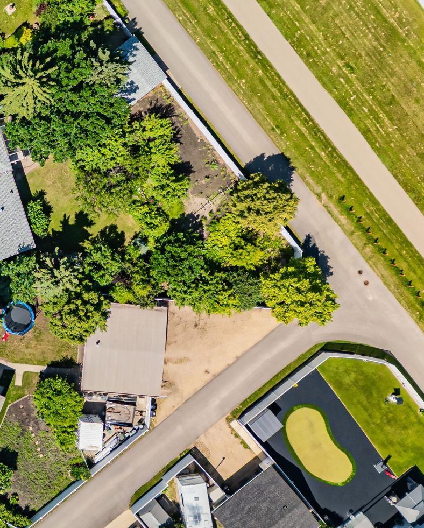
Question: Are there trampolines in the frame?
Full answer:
Yes, there's a trampoline down there.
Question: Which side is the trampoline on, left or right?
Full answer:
You can find the trampoline on the left side of the picture.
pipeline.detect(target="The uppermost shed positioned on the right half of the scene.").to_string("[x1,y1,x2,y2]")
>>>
[244,408,283,443]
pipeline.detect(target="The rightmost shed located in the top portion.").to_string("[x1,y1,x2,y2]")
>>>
[100,34,167,100]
